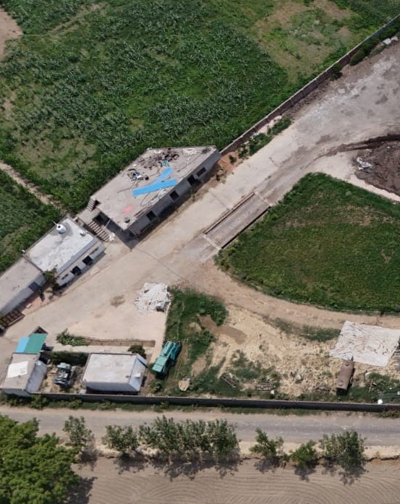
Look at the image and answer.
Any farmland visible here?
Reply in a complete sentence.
Yes, farmland can be seen from above here.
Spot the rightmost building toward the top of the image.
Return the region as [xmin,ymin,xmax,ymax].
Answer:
[92,146,227,241]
